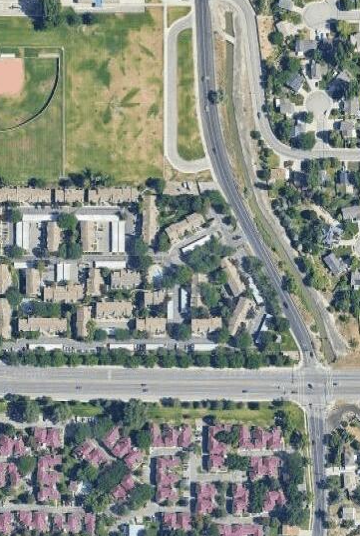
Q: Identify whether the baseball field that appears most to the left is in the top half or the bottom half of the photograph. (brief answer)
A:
top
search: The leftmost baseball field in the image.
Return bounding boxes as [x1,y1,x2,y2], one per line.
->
[0,49,58,130]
